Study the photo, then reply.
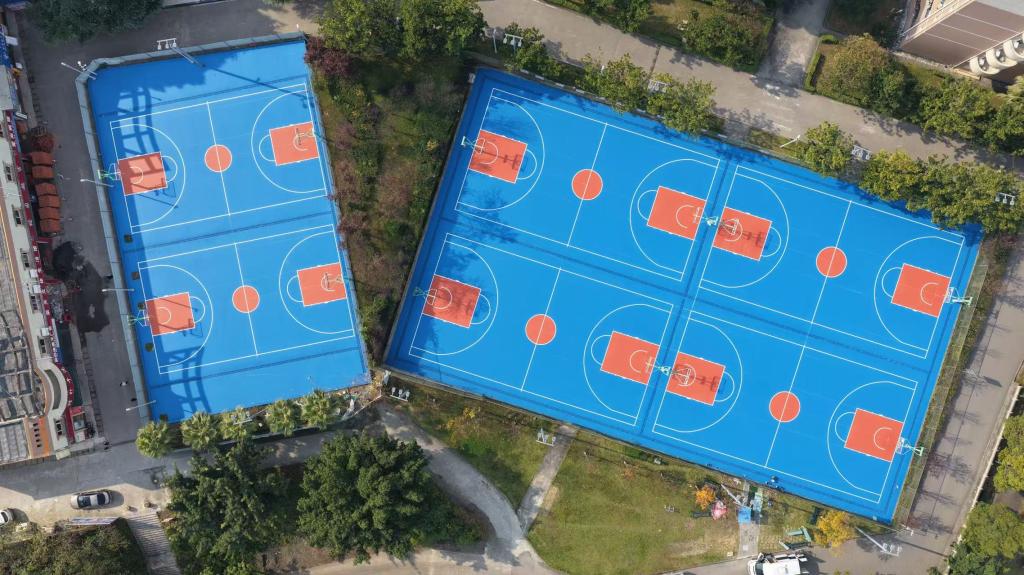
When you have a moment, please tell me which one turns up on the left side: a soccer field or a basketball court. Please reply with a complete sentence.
What appears on the left side is a basketball court.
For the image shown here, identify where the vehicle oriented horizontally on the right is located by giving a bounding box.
[751,552,801,575]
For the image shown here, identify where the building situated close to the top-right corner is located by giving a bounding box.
[904,0,1024,103]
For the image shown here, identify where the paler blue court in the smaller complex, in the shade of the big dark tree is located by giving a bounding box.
[89,40,337,251]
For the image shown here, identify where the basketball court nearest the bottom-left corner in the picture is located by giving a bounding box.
[123,209,371,422]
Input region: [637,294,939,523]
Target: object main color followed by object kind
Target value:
blue basketball court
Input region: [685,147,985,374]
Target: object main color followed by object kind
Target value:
blue basketball court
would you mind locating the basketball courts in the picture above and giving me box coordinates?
[431,67,729,291]
[385,214,682,442]
[89,40,337,251]
[123,209,371,422]
[637,294,939,523]
[685,147,985,374]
